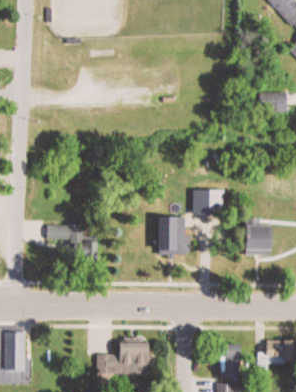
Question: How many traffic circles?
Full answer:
There are no traffic circles in the image.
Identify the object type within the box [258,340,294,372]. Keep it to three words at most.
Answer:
house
